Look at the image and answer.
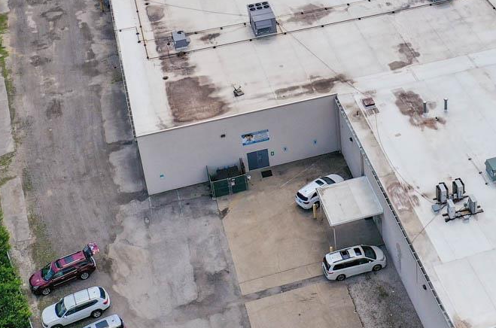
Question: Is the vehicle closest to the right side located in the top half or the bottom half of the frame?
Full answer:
The vehicle closest to the right side sits in the bottom half of the picture.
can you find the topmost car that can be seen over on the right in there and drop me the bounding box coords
[290,170,343,210]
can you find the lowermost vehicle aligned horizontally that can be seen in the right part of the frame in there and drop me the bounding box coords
[320,240,389,280]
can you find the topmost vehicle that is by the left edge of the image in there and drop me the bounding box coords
[24,235,105,294]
